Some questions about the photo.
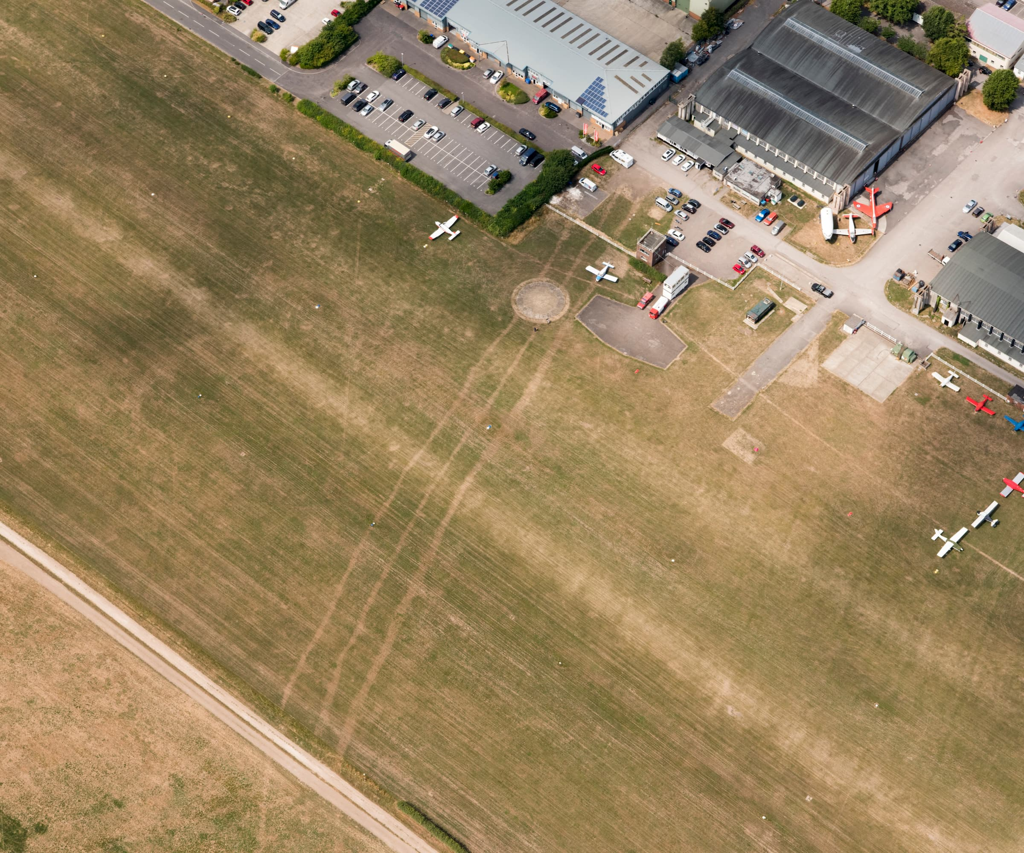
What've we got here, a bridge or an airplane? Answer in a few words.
airplane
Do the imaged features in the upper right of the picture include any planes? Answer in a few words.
Yes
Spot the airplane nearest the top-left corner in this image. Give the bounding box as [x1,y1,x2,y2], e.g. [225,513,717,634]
[431,214,461,239]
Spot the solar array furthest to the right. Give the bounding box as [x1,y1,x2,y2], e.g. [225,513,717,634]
[576,73,610,117]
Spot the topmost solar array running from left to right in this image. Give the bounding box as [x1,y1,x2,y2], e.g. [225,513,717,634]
[410,0,460,20]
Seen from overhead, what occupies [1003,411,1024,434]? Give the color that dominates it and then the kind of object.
blue airplane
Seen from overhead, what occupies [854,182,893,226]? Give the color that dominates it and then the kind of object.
red airplane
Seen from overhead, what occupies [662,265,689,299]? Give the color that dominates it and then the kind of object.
white bus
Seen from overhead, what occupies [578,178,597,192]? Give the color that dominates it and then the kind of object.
white vehicle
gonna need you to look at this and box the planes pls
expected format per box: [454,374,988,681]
[854,182,893,226]
[431,214,461,239]
[964,390,997,416]
[931,366,963,392]
[973,500,1004,531]
[833,211,873,242]
[584,260,619,283]
[932,527,969,558]
[1003,411,1024,434]
[1000,472,1024,498]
